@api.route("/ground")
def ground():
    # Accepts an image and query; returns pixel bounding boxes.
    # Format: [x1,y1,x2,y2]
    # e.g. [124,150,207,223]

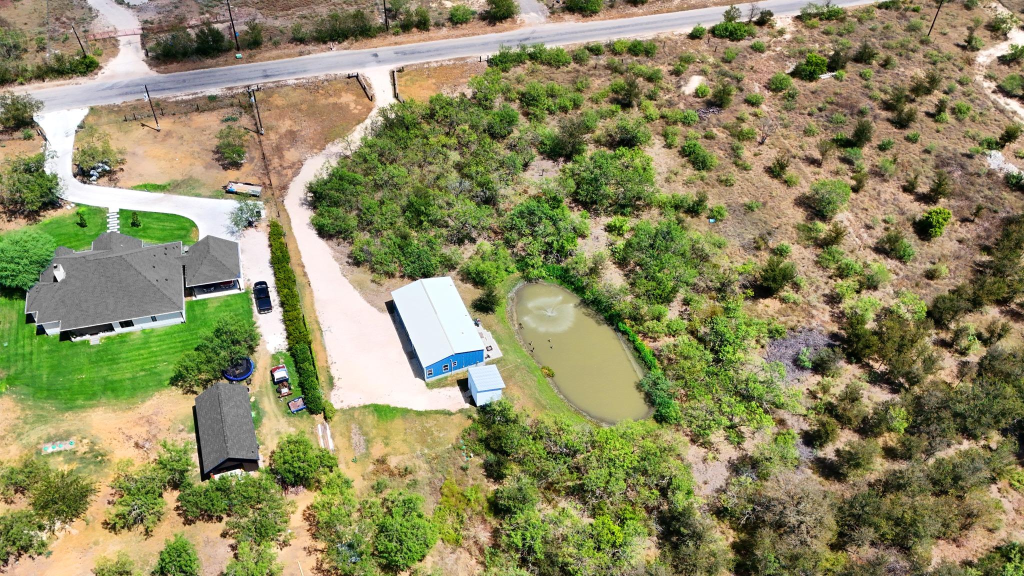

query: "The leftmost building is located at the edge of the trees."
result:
[19,232,195,346]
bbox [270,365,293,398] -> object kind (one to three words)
truck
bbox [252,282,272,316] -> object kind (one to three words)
vehicle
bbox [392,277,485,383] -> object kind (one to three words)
building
